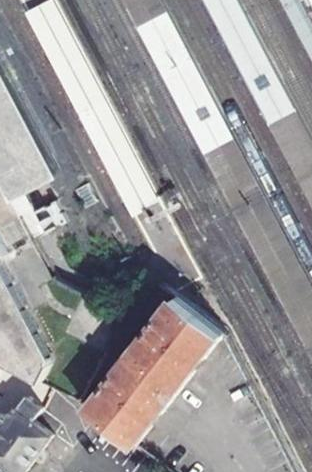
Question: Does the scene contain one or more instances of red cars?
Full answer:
No, the scene contains no red car.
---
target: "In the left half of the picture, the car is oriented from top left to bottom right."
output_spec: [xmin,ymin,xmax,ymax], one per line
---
[78,432,96,454]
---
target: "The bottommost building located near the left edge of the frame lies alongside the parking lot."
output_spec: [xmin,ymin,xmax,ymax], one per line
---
[0,434,55,472]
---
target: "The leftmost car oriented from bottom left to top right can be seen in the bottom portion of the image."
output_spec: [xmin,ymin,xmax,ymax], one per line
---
[166,444,186,465]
